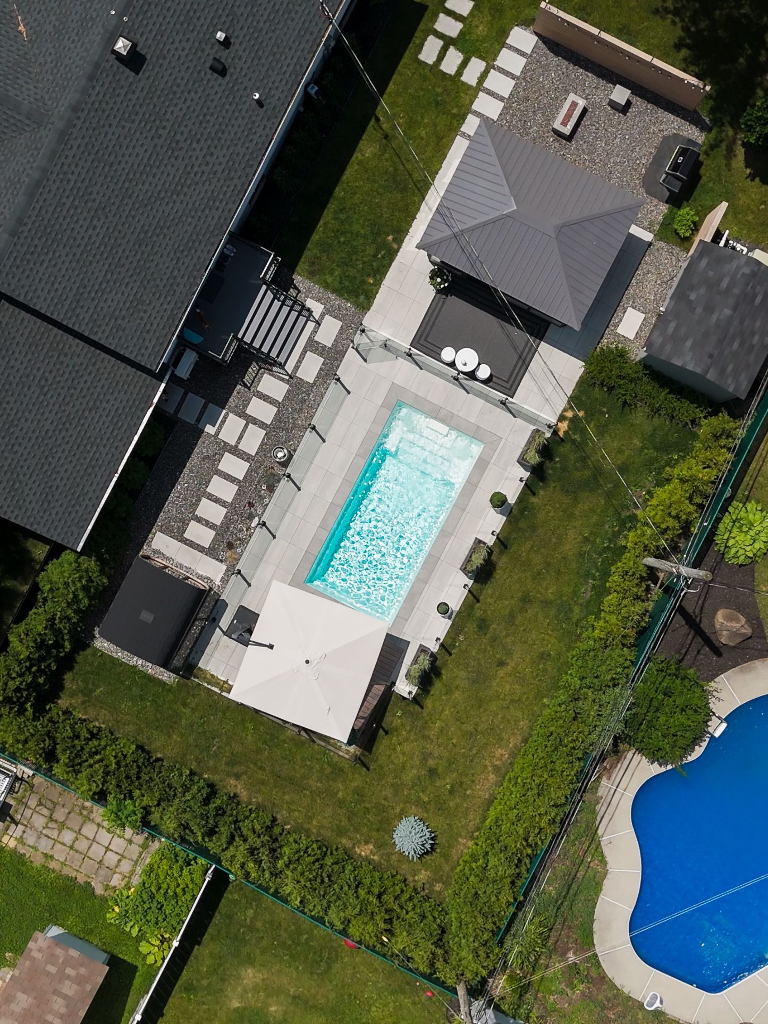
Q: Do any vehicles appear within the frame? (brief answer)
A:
No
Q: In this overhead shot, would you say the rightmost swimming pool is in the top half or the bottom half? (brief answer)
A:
bottom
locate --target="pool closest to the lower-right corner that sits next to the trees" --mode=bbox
[633,696,768,993]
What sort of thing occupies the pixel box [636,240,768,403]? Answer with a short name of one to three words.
shed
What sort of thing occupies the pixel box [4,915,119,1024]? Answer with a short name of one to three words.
shed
